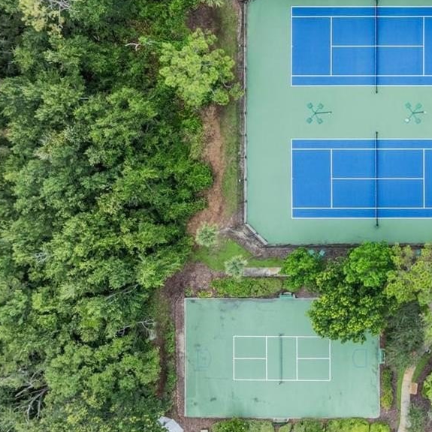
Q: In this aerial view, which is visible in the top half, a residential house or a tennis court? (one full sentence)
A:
The one visible in the top half is a tennis court.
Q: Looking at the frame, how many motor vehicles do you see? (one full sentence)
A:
The photo contains no motor vehicles.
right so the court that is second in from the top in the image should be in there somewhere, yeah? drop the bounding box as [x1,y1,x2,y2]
[291,131,432,228]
